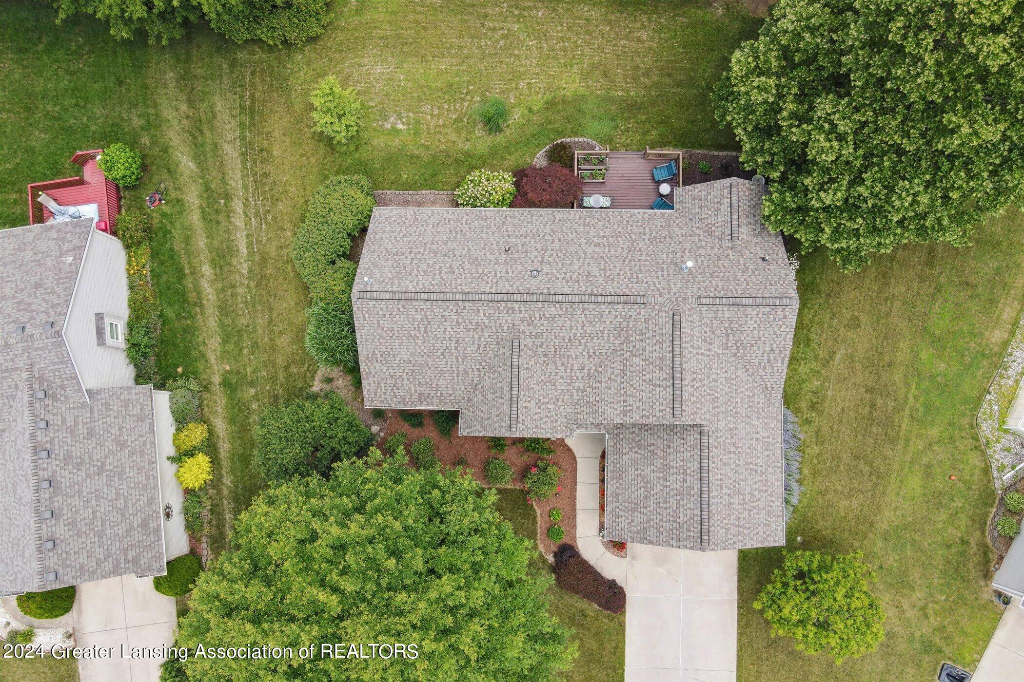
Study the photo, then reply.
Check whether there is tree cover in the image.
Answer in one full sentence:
Yes, there is tree cover in the image.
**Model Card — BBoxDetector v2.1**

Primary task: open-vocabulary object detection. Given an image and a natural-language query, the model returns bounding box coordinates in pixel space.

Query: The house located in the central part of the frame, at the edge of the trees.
[352,177,798,551]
